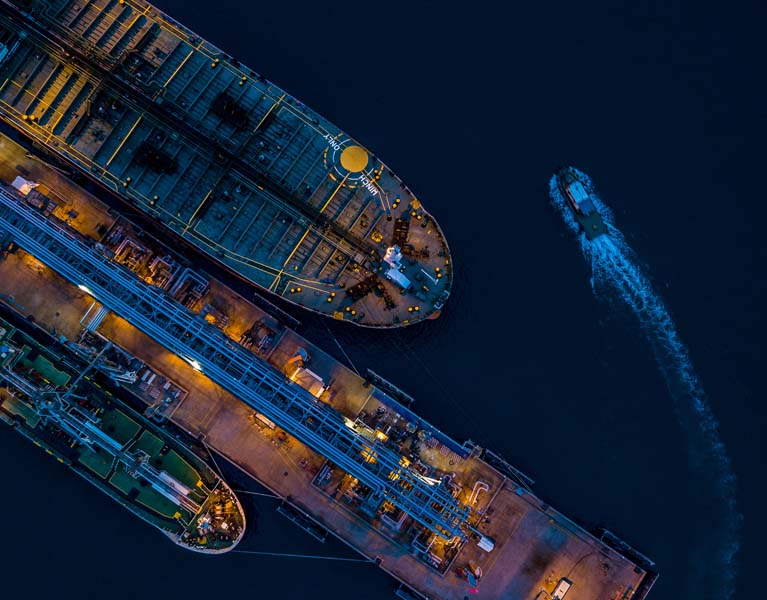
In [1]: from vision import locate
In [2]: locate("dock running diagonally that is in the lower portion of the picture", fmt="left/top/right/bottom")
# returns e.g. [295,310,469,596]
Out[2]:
[0,130,657,600]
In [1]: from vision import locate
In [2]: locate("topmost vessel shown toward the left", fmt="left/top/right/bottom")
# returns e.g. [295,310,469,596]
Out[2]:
[0,0,451,333]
